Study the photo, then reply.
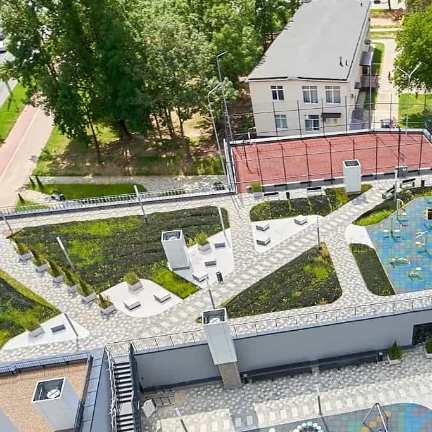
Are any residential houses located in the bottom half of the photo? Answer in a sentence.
No, I can find no residential house in the bottom half of the photo.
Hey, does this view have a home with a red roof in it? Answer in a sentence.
No, there is no home with a red roof in the image.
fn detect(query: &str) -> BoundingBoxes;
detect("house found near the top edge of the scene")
[249,1,375,135]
